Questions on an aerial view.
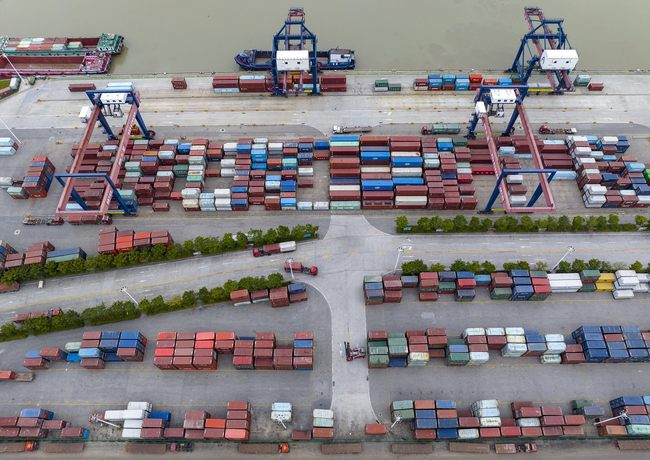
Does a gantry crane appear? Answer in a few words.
Yes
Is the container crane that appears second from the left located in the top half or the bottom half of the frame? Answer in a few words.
top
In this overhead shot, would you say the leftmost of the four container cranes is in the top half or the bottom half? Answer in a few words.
top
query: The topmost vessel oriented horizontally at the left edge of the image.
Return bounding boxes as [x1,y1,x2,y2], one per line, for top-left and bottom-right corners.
[0,32,123,56]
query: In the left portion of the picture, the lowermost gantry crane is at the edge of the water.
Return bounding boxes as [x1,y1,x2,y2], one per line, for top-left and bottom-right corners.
[54,91,158,214]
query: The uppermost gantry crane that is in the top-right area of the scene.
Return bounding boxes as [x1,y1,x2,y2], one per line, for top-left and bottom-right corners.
[506,2,577,91]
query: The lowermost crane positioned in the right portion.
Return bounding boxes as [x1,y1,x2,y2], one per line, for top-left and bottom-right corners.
[464,87,556,210]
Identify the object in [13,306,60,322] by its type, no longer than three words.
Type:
vehicle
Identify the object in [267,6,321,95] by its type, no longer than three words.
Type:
container crane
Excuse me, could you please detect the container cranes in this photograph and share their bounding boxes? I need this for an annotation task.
[464,87,556,210]
[506,2,577,91]
[54,91,158,214]
[267,6,321,95]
